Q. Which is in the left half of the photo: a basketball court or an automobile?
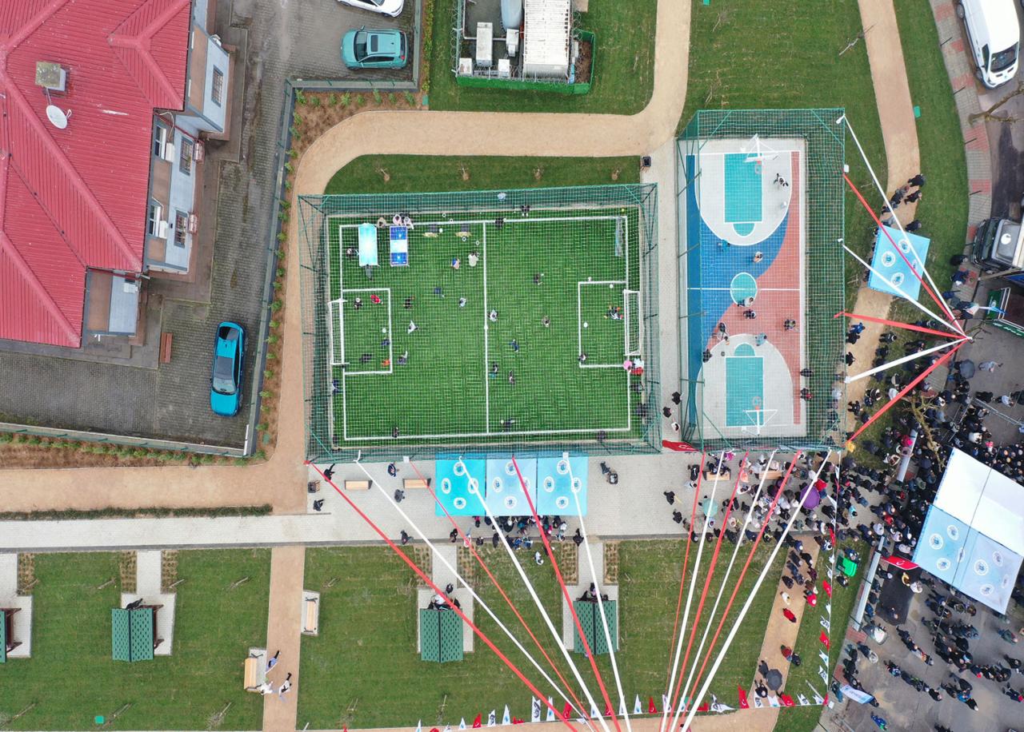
automobile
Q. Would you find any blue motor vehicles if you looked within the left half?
Yes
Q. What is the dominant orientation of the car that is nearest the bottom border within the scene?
up and down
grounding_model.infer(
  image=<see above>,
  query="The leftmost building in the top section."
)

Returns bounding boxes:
[0,0,238,350]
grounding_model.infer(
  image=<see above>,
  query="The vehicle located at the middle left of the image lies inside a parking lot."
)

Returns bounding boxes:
[206,320,245,416]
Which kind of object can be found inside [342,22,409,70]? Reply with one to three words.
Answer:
car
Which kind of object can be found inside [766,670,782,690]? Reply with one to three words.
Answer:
umbrella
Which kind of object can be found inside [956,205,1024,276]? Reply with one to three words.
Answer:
truck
